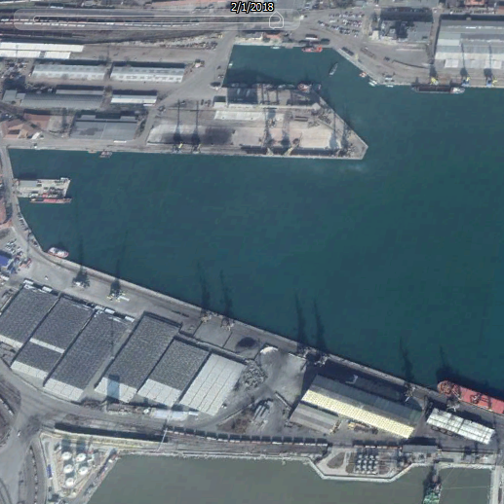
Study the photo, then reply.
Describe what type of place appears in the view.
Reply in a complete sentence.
The picture captures a port.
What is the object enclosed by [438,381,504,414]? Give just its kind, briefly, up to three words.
ship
